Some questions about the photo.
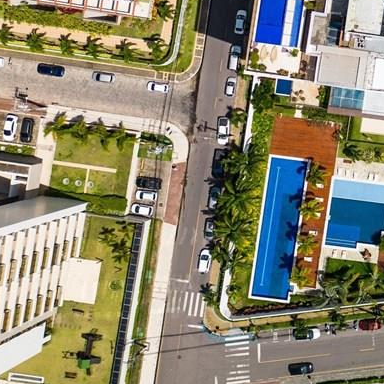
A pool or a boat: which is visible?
pool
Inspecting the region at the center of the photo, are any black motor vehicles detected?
Yes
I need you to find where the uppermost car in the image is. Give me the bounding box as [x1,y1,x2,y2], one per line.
[234,9,249,36]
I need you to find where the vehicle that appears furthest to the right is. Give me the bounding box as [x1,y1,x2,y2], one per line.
[358,317,384,332]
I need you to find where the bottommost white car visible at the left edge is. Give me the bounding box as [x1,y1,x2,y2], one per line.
[4,113,21,141]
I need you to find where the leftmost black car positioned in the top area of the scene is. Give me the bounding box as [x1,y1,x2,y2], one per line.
[21,117,38,142]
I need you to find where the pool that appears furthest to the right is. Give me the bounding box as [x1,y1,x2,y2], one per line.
[322,177,384,249]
